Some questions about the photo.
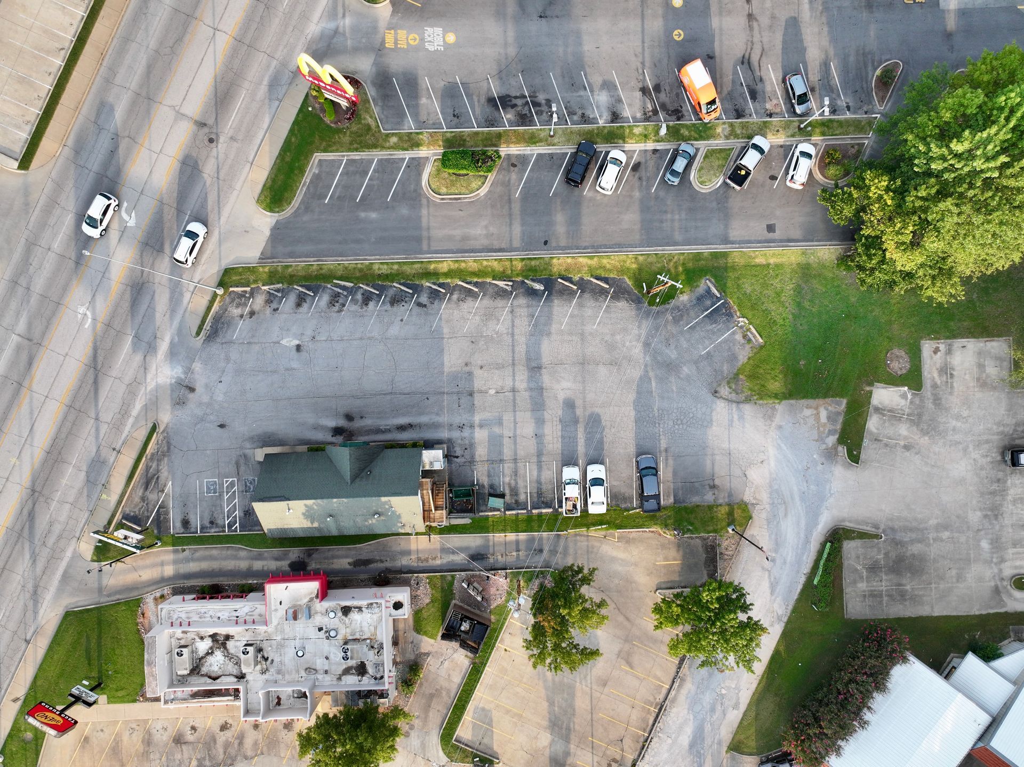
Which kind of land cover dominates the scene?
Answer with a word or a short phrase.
paved ground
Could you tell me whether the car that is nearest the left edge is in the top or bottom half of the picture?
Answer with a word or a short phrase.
top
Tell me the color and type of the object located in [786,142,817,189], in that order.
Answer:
white car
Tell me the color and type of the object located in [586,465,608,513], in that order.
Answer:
white car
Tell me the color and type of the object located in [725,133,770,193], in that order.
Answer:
white truck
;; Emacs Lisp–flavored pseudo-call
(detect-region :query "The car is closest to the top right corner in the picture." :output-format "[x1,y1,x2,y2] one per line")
[783,72,812,116]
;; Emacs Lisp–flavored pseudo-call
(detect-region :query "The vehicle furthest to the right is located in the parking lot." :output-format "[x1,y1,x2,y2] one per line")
[1003,448,1024,470]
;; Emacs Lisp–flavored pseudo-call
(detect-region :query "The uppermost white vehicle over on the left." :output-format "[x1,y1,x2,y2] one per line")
[83,193,119,236]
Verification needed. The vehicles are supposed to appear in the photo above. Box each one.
[783,72,812,116]
[677,56,718,122]
[565,140,595,188]
[637,456,662,514]
[664,142,695,186]
[174,225,206,266]
[725,133,770,193]
[1003,448,1024,470]
[83,193,119,236]
[586,465,608,513]
[786,142,817,189]
[597,150,626,194]
[561,466,583,516]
